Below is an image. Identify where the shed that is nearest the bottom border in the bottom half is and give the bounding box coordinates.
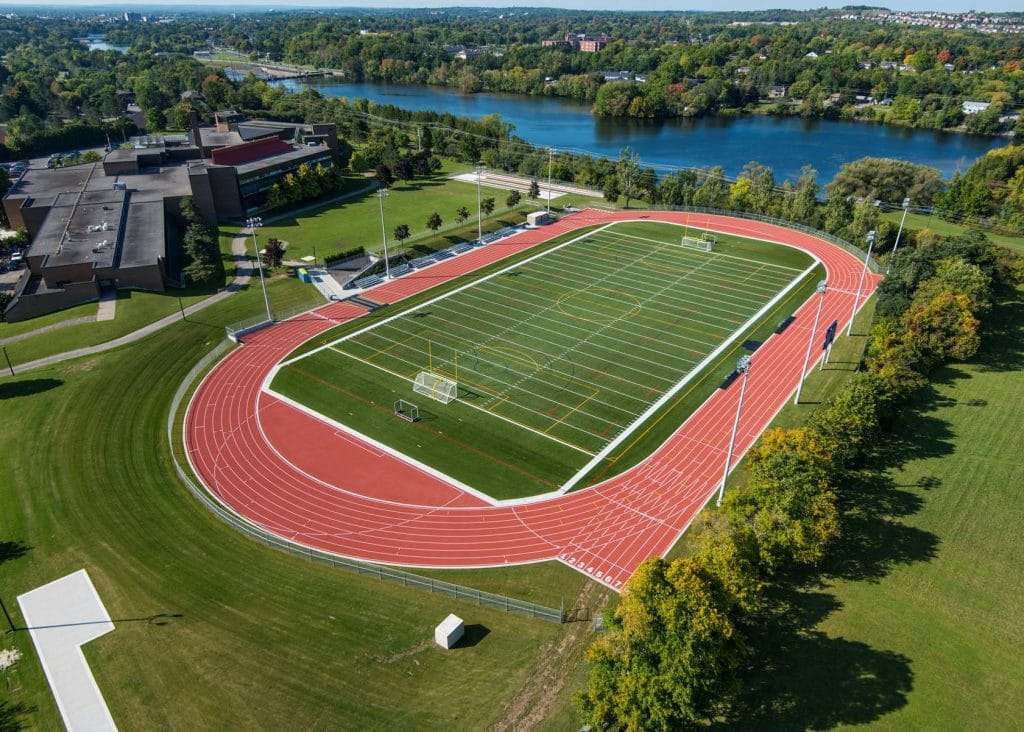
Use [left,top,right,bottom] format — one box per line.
[434,611,463,648]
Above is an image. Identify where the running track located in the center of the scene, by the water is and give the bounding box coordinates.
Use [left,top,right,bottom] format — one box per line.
[185,206,878,595]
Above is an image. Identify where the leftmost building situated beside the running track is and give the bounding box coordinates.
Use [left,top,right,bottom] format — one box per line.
[0,110,340,321]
